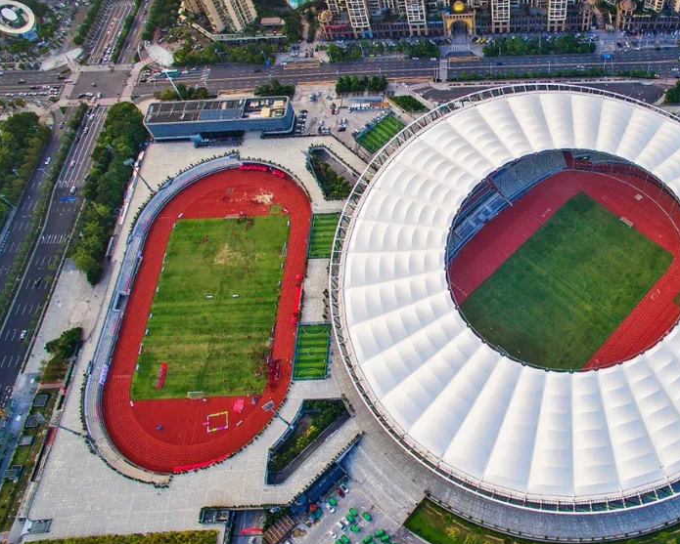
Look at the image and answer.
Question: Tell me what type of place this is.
sports ground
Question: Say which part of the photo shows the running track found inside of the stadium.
right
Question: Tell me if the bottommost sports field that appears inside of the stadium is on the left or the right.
right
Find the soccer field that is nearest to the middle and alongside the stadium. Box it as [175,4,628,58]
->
[304,210,341,259]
